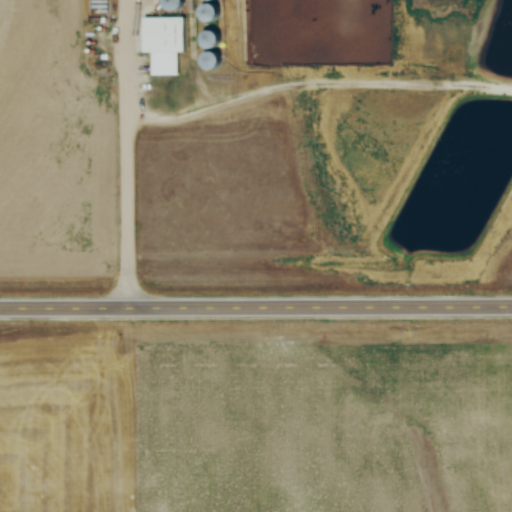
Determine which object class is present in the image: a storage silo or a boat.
storage silo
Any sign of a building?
Yes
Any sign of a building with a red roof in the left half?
No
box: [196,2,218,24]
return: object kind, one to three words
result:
silo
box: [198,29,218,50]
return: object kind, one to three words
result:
silo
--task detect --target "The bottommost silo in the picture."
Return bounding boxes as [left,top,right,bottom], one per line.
[198,50,219,72]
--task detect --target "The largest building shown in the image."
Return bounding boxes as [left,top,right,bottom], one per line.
[141,16,185,76]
